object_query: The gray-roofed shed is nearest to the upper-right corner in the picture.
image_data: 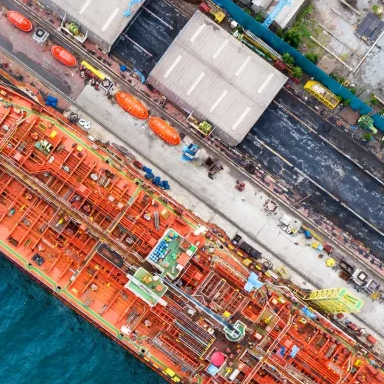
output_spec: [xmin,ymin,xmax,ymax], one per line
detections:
[354,10,384,45]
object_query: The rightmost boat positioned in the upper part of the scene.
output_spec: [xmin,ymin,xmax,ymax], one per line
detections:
[148,117,181,146]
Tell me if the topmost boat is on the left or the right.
left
